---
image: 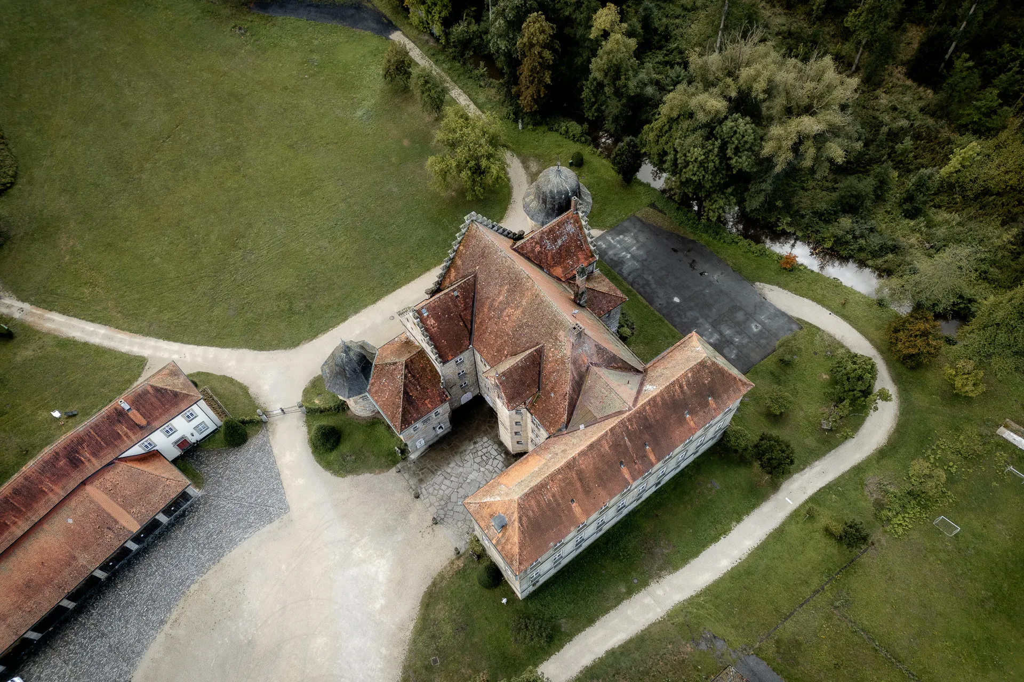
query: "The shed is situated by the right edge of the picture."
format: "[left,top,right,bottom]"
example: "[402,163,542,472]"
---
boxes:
[995,418,1024,448]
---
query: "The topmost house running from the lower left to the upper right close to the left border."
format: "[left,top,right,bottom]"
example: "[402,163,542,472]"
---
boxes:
[0,360,221,557]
